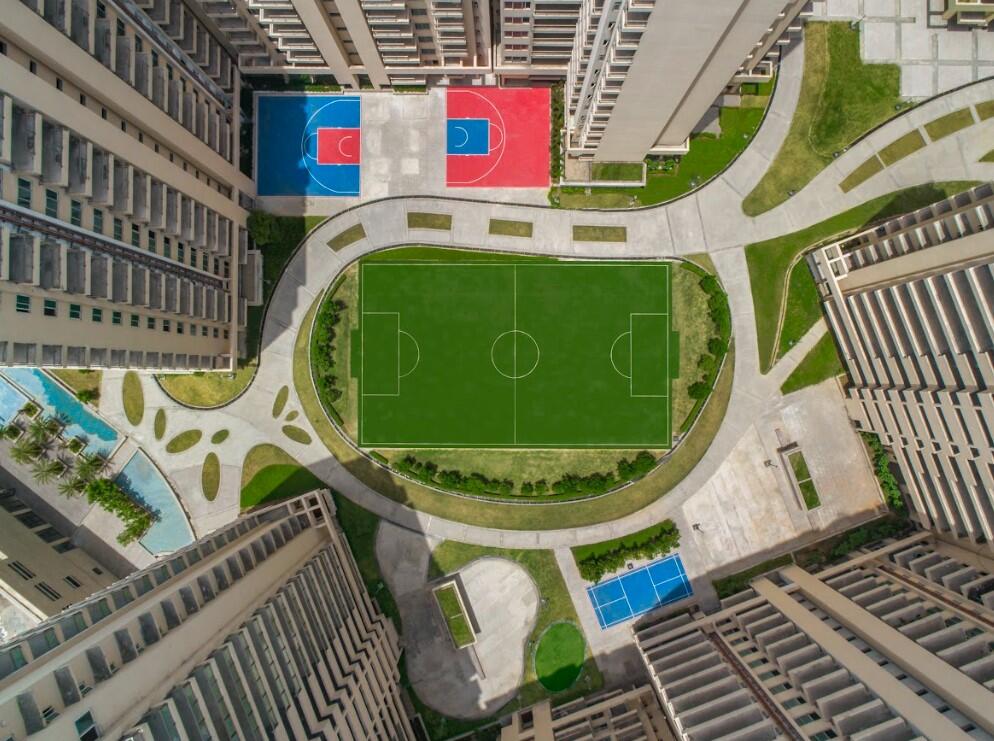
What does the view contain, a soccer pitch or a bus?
soccer pitch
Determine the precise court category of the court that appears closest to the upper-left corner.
basketball court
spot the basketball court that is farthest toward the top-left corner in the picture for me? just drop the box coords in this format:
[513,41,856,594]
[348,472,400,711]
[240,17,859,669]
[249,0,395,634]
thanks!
[254,91,363,198]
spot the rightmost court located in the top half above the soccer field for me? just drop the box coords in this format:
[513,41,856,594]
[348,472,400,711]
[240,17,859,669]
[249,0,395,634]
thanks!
[445,85,552,188]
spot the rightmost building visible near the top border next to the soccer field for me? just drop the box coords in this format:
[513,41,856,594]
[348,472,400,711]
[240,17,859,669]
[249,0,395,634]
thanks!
[559,0,817,188]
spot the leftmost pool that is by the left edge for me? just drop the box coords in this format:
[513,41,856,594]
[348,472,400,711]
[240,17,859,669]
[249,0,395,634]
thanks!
[0,375,29,426]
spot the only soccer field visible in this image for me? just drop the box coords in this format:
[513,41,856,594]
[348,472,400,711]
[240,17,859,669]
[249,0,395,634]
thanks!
[349,262,679,452]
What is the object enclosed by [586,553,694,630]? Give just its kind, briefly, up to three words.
sports court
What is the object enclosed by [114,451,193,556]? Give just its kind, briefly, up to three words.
swimming pool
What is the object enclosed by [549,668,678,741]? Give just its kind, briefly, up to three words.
building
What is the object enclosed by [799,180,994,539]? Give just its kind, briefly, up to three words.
building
